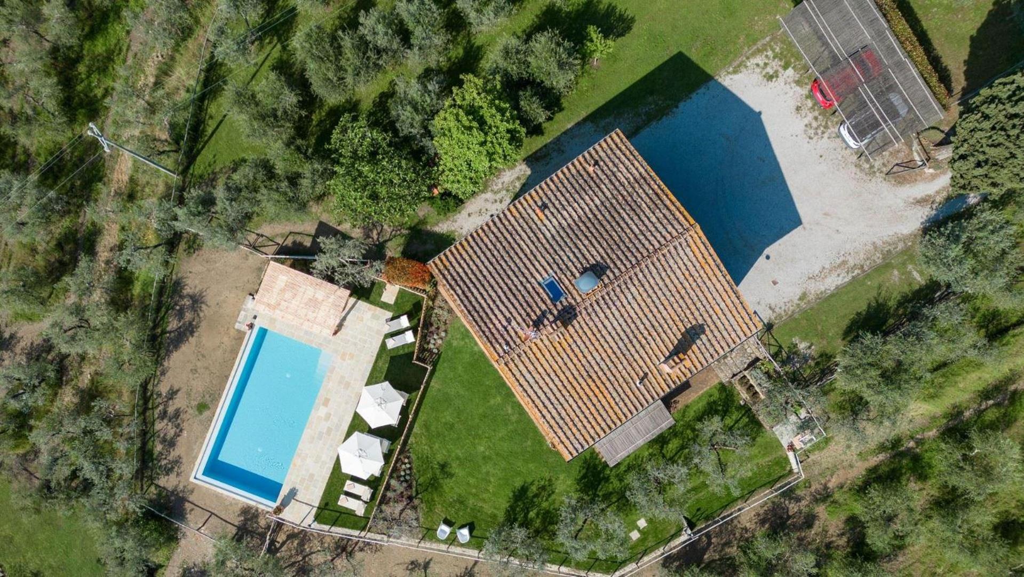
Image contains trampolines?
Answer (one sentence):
No, I find no trampoline anywhere in the image.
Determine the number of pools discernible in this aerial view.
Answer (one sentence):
Only 1 pool is visible.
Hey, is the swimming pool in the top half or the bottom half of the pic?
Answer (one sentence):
It is in the bottom half that the swimming pool appears.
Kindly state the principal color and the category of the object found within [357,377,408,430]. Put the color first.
white umbrella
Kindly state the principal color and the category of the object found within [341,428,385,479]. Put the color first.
white umbrella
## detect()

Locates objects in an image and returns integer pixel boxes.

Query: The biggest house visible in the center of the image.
[427,128,764,463]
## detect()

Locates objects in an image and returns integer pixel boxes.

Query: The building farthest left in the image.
[252,261,361,336]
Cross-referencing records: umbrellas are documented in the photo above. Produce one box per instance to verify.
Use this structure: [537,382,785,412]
[341,428,385,479]
[357,377,408,430]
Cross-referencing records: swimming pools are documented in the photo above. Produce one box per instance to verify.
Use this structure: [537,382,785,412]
[189,325,333,514]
